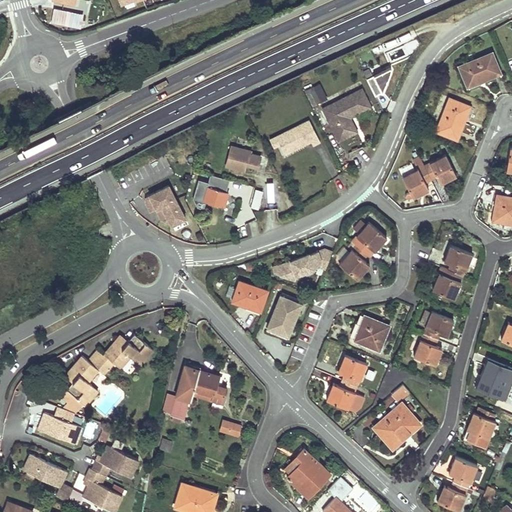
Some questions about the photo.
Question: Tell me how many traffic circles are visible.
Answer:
2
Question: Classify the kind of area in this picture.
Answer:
residential area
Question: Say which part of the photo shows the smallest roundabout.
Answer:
top left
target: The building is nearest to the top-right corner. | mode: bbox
[458,52,504,90]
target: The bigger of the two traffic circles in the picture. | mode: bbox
[108,231,182,305]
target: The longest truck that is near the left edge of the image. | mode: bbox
[18,137,56,160]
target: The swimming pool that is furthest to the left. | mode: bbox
[94,386,124,416]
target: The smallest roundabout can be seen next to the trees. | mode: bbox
[14,38,64,88]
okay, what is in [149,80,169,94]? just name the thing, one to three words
vehicle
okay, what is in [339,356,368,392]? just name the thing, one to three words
house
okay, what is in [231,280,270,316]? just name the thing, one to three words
house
